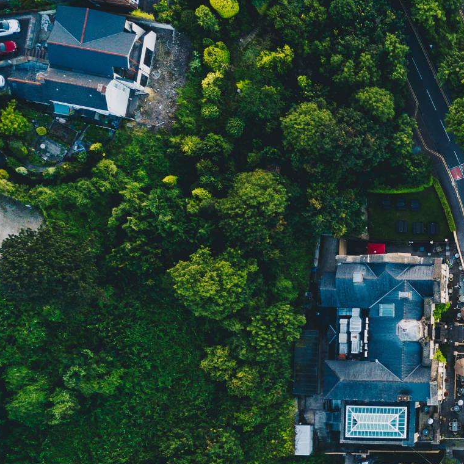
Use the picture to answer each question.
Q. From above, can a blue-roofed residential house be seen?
Yes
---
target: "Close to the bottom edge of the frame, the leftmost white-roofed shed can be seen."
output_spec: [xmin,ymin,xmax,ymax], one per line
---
[296,424,317,456]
